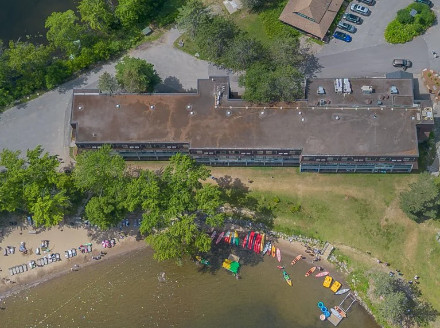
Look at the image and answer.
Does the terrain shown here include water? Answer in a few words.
Yes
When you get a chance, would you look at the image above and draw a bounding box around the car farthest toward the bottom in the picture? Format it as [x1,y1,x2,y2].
[392,58,412,71]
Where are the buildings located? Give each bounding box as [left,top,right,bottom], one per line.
[279,0,344,40]
[69,71,436,180]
